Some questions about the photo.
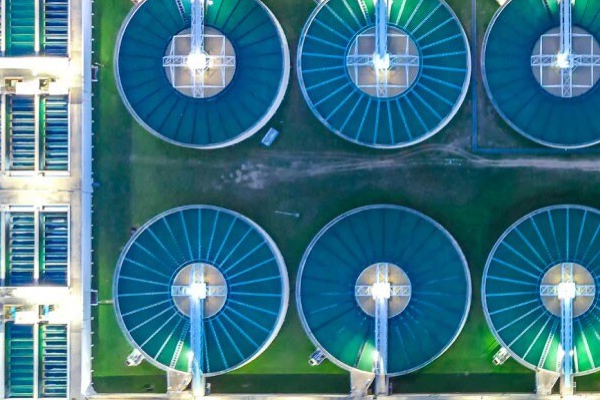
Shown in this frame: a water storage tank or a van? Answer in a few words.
water storage tank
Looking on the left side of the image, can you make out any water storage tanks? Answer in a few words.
Yes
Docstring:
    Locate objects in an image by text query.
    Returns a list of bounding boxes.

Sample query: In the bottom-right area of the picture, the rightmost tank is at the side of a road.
[480,204,600,400]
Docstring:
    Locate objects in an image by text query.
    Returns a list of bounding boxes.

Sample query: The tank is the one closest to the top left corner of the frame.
[112,0,288,148]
